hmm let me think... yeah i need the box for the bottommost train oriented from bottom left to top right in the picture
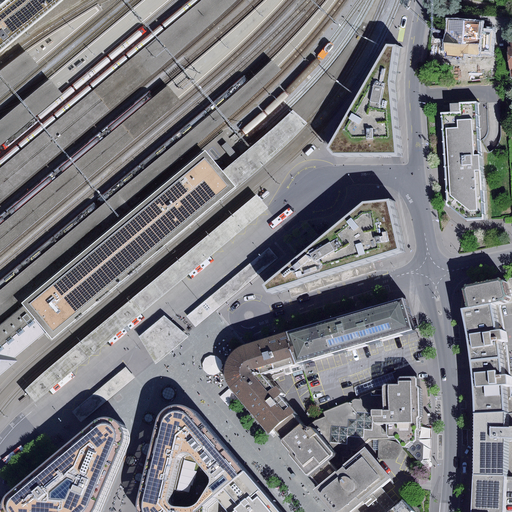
[0,202,98,288]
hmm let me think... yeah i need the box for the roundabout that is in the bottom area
[226,295,267,332]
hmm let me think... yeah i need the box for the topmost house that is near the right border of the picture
[438,15,495,60]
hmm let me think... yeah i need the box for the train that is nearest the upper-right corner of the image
[286,60,322,96]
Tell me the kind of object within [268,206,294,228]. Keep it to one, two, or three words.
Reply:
bus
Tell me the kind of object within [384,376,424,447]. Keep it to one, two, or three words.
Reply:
house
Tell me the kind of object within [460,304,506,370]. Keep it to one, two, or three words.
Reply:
building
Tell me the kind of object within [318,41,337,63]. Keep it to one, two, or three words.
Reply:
vehicle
